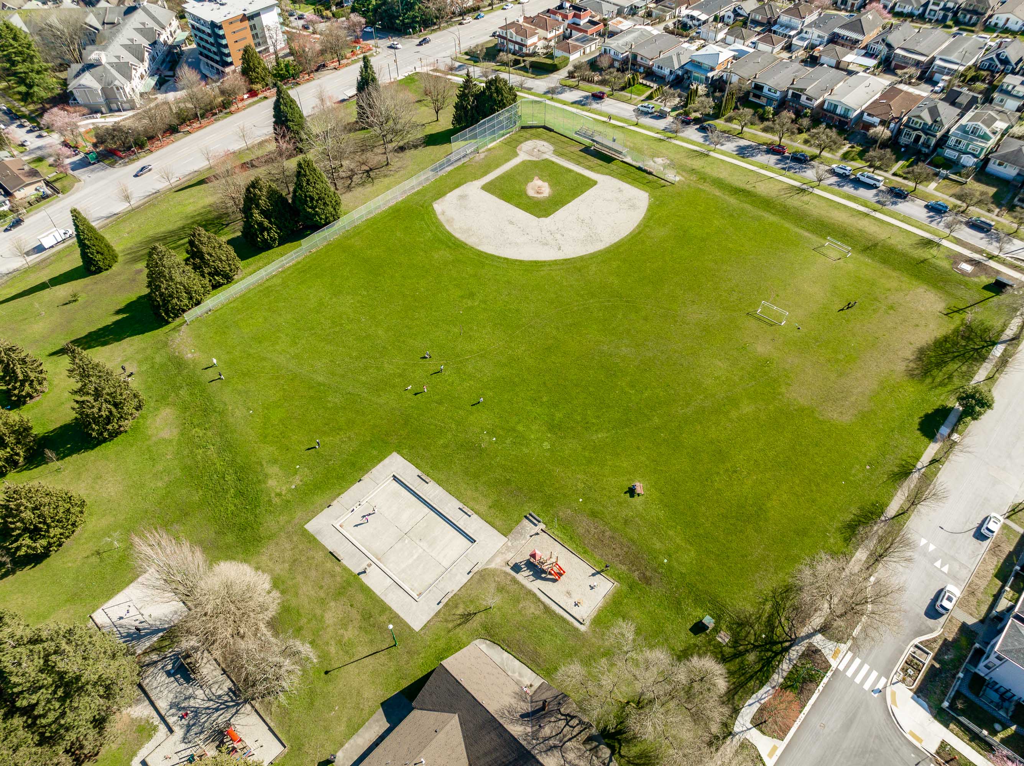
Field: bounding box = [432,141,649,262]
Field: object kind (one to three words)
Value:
baseball field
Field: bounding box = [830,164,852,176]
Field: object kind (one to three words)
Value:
vehicle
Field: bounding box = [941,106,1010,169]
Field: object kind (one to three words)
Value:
house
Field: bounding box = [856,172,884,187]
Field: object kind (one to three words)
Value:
vehicle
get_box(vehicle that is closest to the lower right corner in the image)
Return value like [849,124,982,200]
[930,589,964,615]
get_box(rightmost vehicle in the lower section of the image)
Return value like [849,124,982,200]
[977,514,1004,540]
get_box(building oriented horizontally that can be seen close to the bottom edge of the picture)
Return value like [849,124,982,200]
[359,641,621,766]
